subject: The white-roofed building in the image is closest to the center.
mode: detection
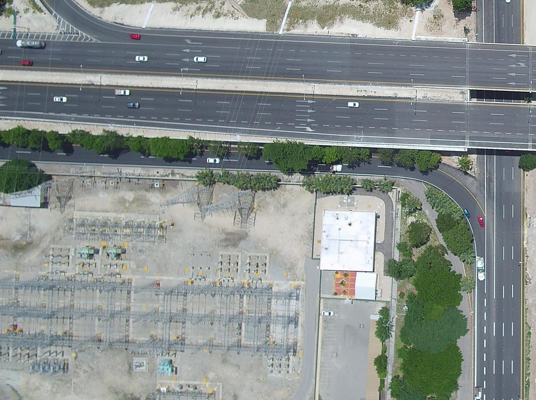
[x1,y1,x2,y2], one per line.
[320,207,381,271]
